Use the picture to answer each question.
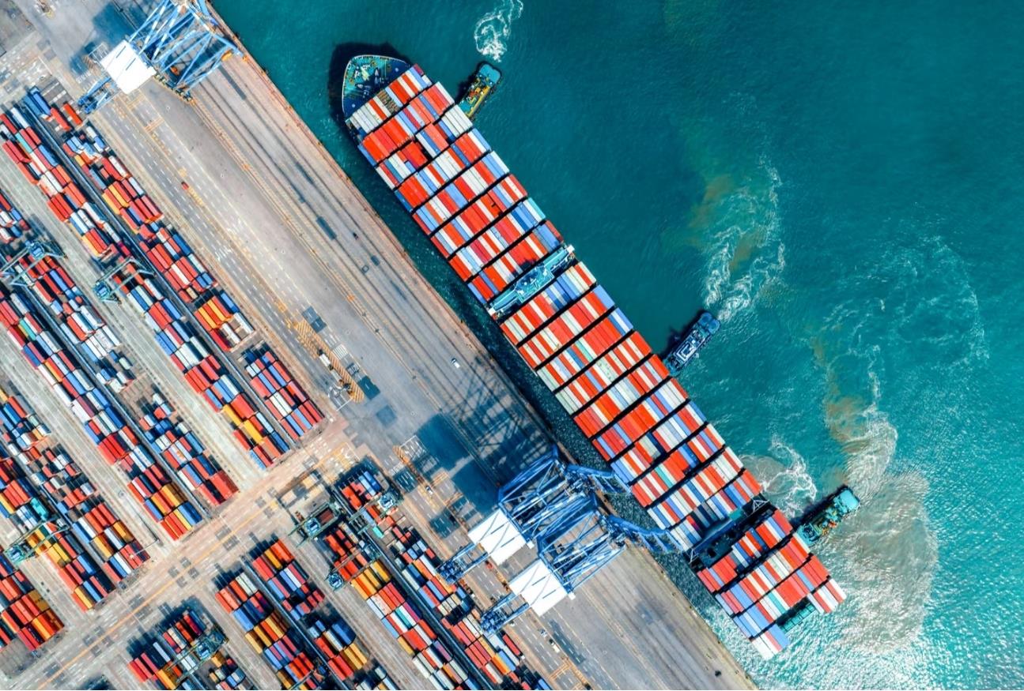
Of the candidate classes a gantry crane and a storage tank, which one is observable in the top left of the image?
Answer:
gantry crane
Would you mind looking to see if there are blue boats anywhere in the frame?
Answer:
Yes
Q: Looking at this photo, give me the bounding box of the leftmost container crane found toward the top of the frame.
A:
[0,242,74,298]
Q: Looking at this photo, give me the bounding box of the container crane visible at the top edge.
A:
[70,0,251,126]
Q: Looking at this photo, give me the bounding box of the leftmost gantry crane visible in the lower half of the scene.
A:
[2,509,84,570]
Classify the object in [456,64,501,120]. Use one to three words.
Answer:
boat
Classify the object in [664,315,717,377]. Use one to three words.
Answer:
boat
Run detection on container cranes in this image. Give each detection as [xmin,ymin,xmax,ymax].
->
[479,488,683,634]
[2,509,84,570]
[439,440,633,584]
[0,242,74,298]
[284,489,353,552]
[321,531,387,596]
[84,256,162,312]
[70,0,251,126]
[158,620,234,691]
[347,475,410,537]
